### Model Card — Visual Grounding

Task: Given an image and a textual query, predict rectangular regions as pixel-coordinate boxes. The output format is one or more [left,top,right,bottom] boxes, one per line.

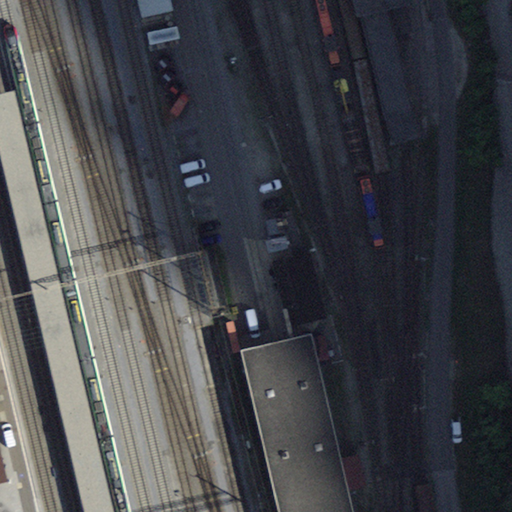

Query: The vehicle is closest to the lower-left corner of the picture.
[0,422,17,450]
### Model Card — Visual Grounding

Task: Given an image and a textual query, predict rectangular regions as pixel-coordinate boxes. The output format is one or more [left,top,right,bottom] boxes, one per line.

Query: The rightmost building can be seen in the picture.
[354,0,422,144]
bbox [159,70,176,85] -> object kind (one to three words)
work vehicle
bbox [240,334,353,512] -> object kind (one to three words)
building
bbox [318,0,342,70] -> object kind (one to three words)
rail car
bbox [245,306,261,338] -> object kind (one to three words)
vehicle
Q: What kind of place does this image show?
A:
rail yard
